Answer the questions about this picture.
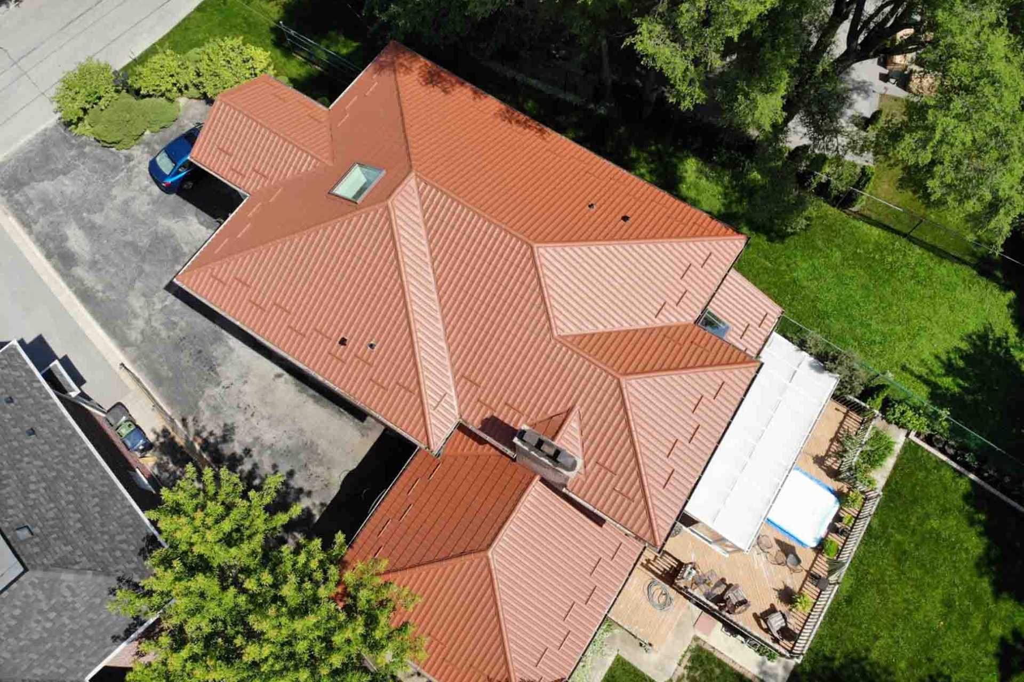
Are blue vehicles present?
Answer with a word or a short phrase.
Yes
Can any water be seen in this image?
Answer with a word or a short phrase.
No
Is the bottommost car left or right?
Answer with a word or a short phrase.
left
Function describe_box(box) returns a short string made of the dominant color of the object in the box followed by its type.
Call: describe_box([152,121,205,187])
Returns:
blue car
